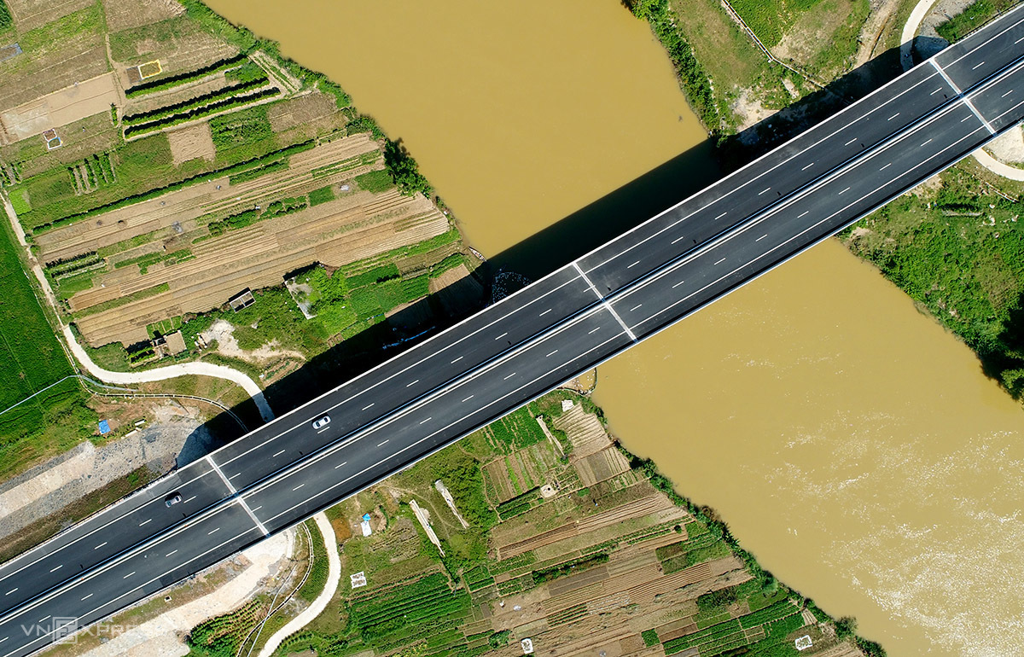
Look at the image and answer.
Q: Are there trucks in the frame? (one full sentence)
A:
No, I can't see a single truck in this photo.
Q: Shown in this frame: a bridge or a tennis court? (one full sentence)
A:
It is a bridge that can be seen here.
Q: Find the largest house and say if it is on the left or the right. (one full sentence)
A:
The largest house is on the left side of the image.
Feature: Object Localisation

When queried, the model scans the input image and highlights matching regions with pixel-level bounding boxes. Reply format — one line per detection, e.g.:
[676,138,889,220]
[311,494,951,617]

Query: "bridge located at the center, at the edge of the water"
[183,40,1016,560]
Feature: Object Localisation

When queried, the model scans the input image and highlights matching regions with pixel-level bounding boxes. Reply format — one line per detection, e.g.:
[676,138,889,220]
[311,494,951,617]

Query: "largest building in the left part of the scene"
[285,265,322,319]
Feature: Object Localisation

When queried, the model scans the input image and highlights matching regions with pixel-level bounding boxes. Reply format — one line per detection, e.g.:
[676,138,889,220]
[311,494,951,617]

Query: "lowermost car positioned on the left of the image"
[165,492,183,505]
